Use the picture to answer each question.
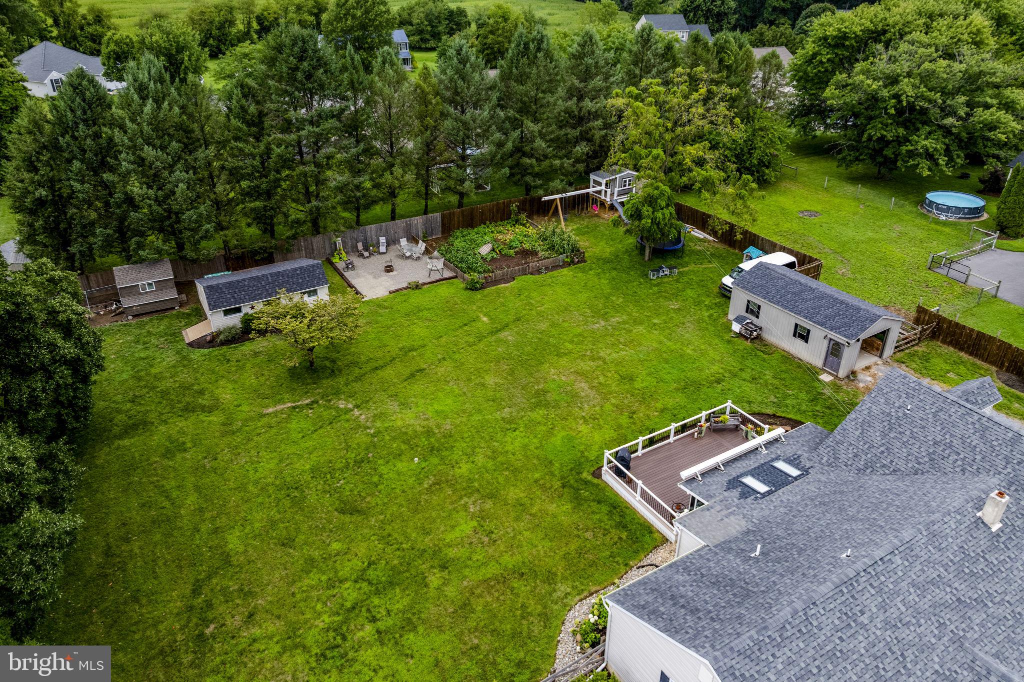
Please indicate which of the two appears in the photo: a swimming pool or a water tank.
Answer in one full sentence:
It is a swimming pool that can be seen here.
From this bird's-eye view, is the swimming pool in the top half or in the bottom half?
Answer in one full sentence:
Seen from above, the swimming pool lies in the top half of the view.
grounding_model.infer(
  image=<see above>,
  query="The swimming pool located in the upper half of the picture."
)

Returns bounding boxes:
[916,190,989,226]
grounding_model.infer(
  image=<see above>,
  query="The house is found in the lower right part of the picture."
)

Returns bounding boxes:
[584,367,1024,682]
